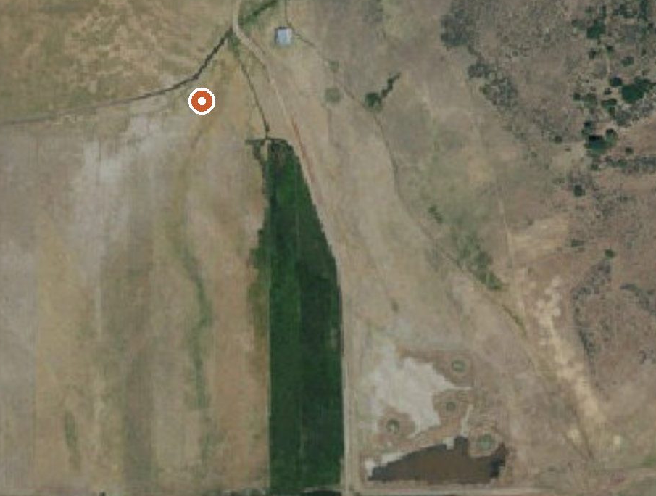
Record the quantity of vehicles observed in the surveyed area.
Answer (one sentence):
The picture shows no vehicles.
